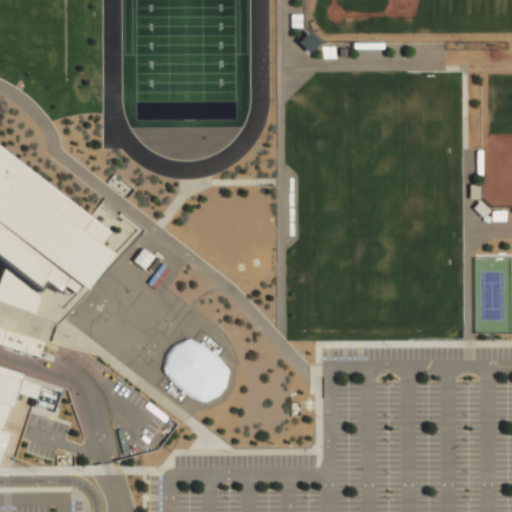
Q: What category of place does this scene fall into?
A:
sports ground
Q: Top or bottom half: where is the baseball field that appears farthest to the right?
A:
top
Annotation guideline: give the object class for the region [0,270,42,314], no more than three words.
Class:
building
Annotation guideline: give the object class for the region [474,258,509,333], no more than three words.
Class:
tennis court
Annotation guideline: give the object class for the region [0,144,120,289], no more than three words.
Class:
building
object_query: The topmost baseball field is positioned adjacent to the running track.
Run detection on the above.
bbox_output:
[316,0,512,34]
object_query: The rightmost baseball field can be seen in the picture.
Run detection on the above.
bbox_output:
[484,74,512,206]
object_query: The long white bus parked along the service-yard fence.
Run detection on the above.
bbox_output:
[144,401,170,424]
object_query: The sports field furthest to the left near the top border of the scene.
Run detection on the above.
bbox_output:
[124,0,249,128]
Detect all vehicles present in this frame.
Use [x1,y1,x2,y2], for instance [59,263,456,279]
[144,401,170,424]
[118,386,126,396]
[112,383,120,392]
[123,389,131,398]
[139,430,150,444]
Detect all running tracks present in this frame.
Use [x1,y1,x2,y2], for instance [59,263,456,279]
[104,0,269,180]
